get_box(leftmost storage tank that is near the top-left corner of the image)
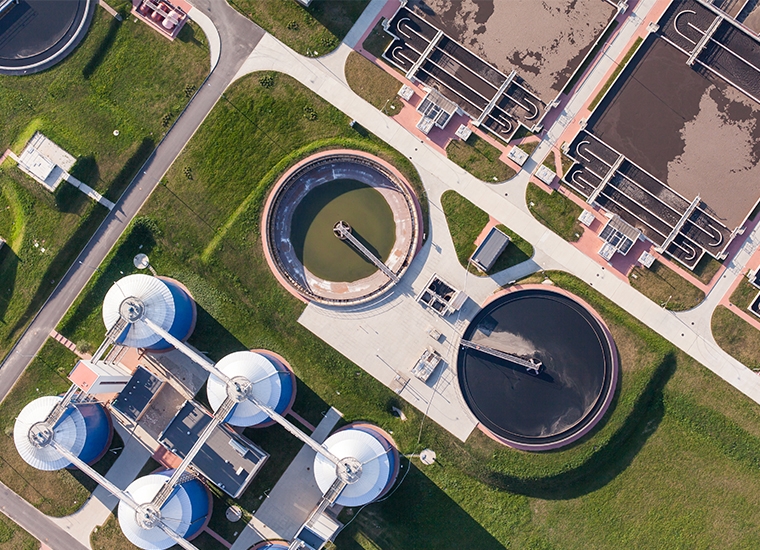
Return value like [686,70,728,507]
[0,0,96,76]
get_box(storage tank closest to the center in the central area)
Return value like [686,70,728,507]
[262,149,422,303]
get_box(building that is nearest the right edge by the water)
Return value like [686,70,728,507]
[597,213,643,261]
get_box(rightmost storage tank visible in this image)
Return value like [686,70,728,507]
[459,286,619,451]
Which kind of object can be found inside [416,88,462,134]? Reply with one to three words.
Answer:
building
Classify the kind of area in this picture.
industrial area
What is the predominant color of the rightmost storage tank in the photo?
black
